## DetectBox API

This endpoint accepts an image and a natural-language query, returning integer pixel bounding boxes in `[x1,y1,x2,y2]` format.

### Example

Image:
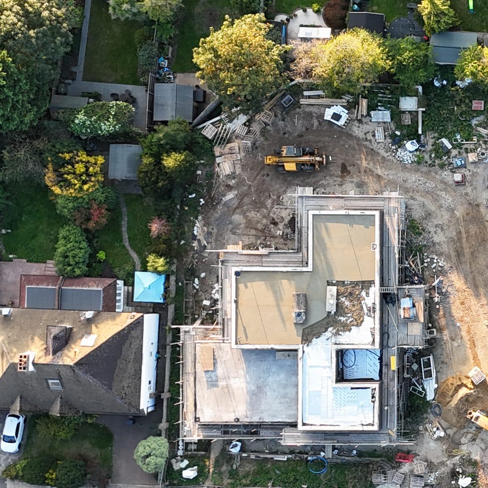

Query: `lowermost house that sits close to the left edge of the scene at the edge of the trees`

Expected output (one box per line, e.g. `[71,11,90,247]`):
[0,306,157,416]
